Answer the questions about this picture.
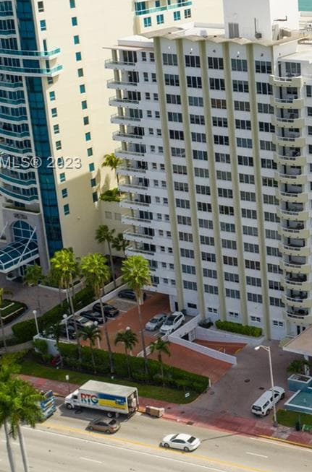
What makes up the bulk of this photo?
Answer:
buildings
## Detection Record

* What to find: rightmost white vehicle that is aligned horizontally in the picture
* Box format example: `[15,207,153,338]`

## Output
[161,434,201,452]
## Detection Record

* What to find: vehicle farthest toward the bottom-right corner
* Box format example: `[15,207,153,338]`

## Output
[252,384,284,411]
